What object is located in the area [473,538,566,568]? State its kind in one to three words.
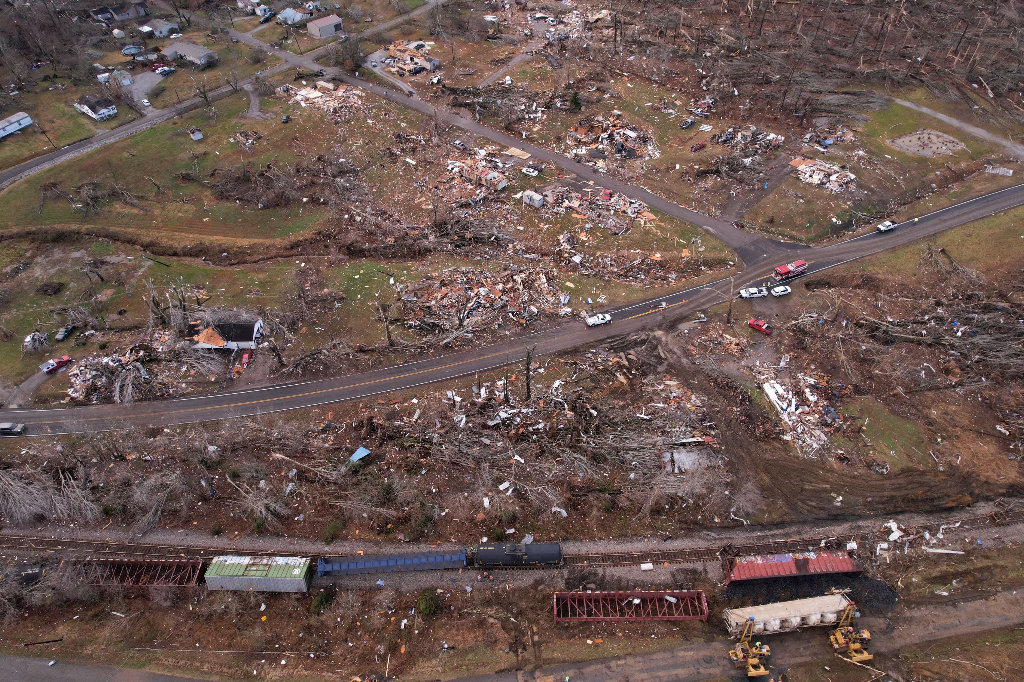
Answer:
rail car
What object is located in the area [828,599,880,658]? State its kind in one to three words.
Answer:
work vehicle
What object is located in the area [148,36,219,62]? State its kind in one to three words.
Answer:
house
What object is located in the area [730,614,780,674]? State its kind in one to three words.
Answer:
work vehicle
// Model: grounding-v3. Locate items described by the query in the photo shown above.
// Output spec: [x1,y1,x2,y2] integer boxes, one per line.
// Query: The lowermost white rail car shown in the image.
[727,583,871,634]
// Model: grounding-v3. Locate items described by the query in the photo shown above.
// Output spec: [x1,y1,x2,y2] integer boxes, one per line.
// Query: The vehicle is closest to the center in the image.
[584,309,612,324]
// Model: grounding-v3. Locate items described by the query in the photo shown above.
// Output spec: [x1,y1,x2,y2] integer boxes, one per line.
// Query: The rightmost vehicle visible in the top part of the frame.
[875,218,899,230]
